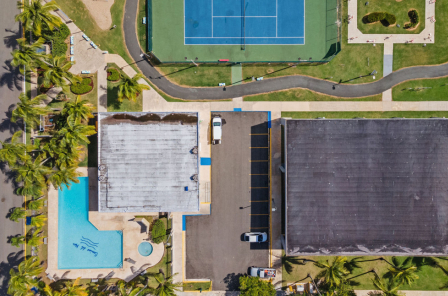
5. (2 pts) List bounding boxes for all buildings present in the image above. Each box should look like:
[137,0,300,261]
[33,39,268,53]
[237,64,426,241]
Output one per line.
[98,112,199,212]
[278,113,448,255]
